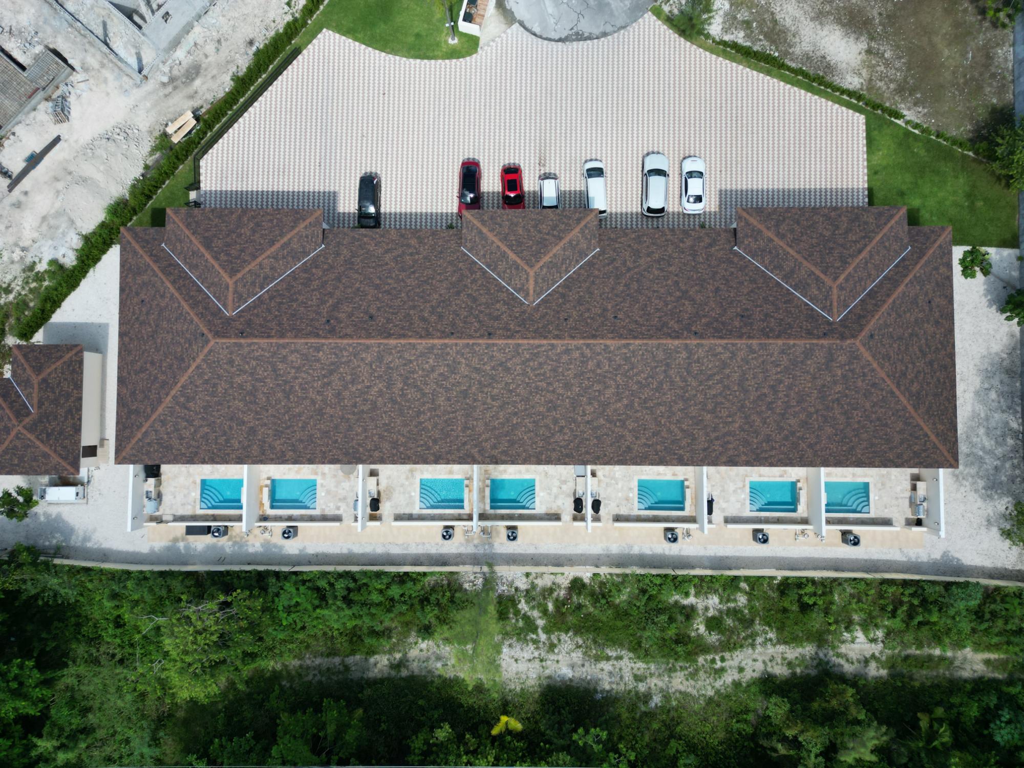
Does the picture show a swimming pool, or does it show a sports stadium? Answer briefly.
swimming pool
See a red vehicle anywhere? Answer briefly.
Yes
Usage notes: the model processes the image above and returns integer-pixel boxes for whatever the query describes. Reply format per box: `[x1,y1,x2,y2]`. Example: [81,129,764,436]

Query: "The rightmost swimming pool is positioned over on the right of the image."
[822,477,874,516]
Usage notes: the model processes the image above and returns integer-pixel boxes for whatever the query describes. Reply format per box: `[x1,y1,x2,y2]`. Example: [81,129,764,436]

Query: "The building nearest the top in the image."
[458,0,500,40]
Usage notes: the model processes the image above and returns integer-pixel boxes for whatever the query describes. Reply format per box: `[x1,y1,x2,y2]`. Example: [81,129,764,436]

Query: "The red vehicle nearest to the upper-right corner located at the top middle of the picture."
[499,166,527,209]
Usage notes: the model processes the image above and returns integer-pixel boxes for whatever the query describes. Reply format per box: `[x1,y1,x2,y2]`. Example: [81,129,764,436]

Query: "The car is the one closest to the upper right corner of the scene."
[679,157,708,217]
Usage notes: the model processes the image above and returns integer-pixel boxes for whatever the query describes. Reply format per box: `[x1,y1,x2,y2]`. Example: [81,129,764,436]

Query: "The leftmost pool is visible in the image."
[196,474,244,512]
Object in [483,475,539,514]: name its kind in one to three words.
swimming pool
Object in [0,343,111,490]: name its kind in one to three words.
house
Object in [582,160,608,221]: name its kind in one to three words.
car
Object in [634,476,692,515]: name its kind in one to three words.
swimming pool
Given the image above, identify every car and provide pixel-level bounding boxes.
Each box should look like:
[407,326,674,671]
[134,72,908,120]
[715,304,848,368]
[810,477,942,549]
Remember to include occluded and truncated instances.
[499,166,527,209]
[582,160,608,221]
[355,173,383,226]
[641,153,671,218]
[679,157,708,217]
[537,174,563,209]
[455,160,484,224]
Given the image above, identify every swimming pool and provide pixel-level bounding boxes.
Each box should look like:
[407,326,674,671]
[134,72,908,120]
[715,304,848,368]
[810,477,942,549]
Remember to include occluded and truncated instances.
[416,475,471,514]
[634,476,692,515]
[262,474,320,513]
[196,474,244,512]
[483,475,539,514]
[822,477,874,516]
[746,476,806,516]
